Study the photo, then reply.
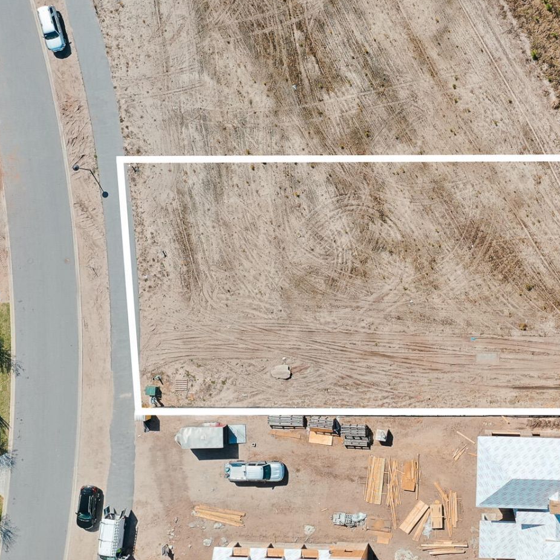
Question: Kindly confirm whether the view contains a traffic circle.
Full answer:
No, the picture doesn't show any traffic circle.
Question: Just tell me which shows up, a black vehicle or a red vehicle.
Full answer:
Looking from above, you can make out a black vehicle.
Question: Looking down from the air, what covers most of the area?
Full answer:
What you mostly see from above here is paved ground.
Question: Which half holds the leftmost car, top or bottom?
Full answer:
Seen from above, the leftmost car lies in the top half of the view.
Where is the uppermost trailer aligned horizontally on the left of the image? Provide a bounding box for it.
[169,422,251,449]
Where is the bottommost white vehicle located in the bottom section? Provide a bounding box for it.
[97,502,135,560]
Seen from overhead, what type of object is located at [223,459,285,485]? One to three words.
truck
